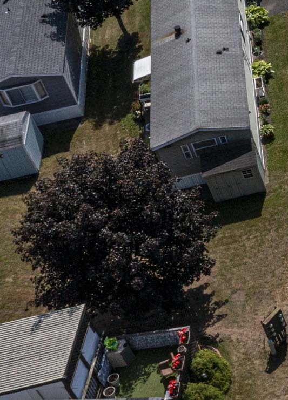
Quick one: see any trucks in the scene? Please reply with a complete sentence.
No, there's no truck here.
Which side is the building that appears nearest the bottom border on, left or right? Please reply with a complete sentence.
The building that appears nearest the bottom border appears in the left half of the scene.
